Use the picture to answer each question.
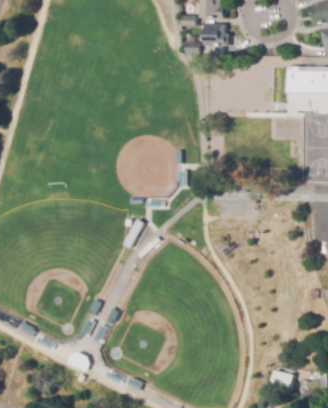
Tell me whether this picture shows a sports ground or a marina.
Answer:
sports ground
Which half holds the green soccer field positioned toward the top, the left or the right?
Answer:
left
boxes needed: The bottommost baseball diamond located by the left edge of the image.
[0,200,128,344]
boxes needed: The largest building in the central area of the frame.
[122,217,145,248]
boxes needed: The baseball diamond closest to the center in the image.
[117,134,180,197]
